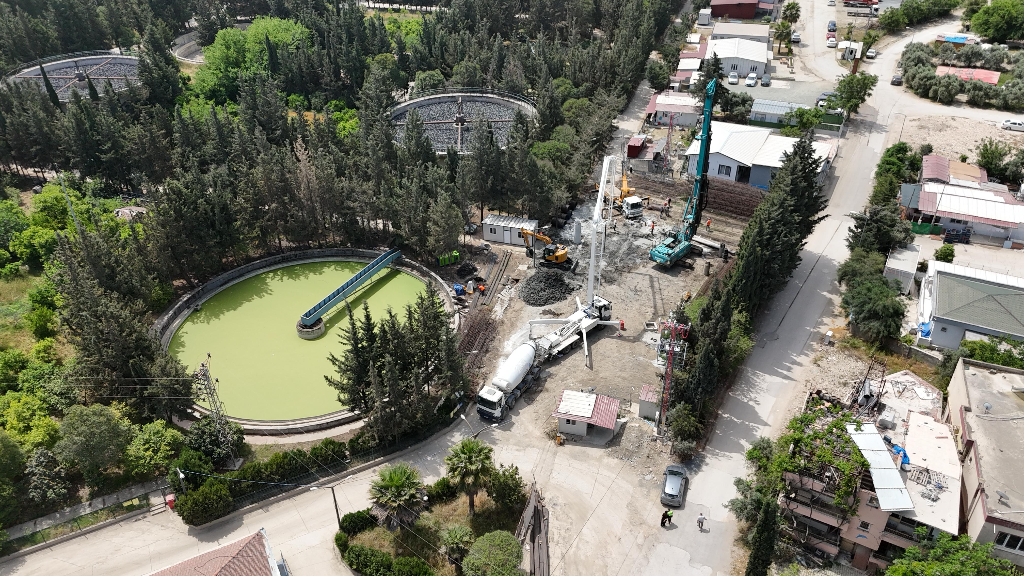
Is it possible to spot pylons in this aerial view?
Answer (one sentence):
Yes, a pylon can be made out from above.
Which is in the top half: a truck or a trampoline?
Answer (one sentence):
It is a truck that can be seen in the top half.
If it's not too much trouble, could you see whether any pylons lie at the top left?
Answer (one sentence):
No, there's no pylon to be seen at the top left.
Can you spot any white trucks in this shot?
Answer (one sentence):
Yes, I can see a white truck in this picture.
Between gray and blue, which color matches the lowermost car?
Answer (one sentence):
The lowermost car is gray.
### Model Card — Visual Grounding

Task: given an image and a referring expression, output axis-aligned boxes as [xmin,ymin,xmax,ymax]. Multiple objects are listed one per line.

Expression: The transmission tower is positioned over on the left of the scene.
[187,347,252,473]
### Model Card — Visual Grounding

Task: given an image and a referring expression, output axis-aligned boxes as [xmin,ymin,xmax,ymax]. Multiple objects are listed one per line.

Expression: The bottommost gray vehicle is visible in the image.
[663,461,692,509]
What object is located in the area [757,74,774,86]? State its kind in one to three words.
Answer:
vehicle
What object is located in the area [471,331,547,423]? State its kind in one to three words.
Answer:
truck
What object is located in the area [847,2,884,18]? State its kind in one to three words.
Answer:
vehicle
